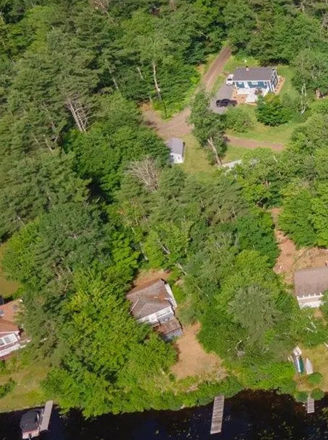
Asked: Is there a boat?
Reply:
Yes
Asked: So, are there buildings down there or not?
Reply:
Yes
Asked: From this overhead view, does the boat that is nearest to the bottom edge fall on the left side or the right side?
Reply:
left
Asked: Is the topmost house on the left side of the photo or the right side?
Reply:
right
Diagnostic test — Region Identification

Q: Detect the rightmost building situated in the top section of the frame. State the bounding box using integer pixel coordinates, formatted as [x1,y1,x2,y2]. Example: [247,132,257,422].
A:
[233,65,276,94]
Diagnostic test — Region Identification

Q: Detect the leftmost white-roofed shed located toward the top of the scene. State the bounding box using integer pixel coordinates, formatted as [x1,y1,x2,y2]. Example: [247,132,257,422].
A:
[171,135,189,161]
